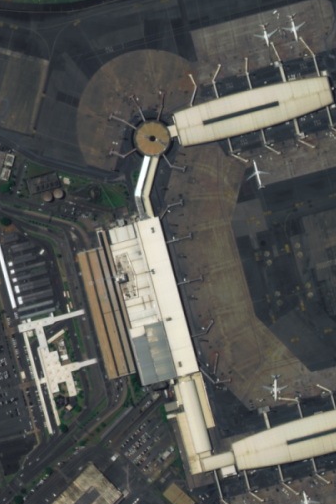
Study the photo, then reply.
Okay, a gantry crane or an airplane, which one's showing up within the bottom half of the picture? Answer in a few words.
airplane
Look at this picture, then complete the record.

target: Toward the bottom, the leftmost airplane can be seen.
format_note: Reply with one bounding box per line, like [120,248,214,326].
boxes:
[264,375,288,401]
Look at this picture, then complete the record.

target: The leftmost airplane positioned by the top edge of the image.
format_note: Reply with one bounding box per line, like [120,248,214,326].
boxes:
[254,22,276,46]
